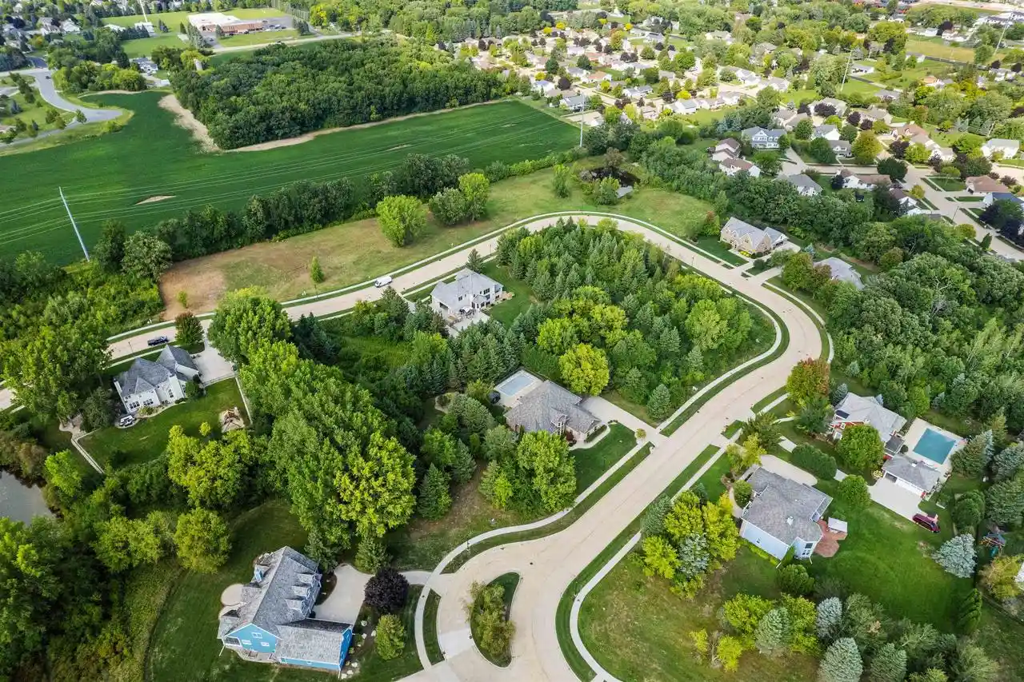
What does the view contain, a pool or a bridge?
pool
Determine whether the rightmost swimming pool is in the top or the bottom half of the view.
bottom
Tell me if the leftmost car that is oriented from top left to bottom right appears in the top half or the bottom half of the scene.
bottom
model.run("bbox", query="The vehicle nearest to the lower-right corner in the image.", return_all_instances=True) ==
[913,511,941,532]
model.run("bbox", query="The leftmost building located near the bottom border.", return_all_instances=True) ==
[212,544,353,672]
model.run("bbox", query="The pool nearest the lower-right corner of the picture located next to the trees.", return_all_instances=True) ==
[911,426,958,466]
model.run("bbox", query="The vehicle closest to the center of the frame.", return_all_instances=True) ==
[374,274,393,287]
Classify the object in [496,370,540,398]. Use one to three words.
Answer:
swimming pool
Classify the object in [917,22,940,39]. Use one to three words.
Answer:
house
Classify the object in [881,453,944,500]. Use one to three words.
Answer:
building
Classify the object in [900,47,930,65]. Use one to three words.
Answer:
house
